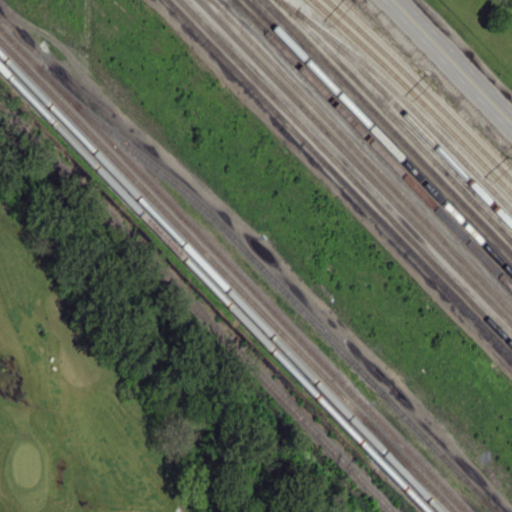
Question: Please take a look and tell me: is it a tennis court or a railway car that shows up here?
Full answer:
It is a railway car that can be seen here.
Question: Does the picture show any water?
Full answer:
No, there is no water in the image.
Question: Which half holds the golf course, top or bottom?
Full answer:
You can find the golf course in the bottom half.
